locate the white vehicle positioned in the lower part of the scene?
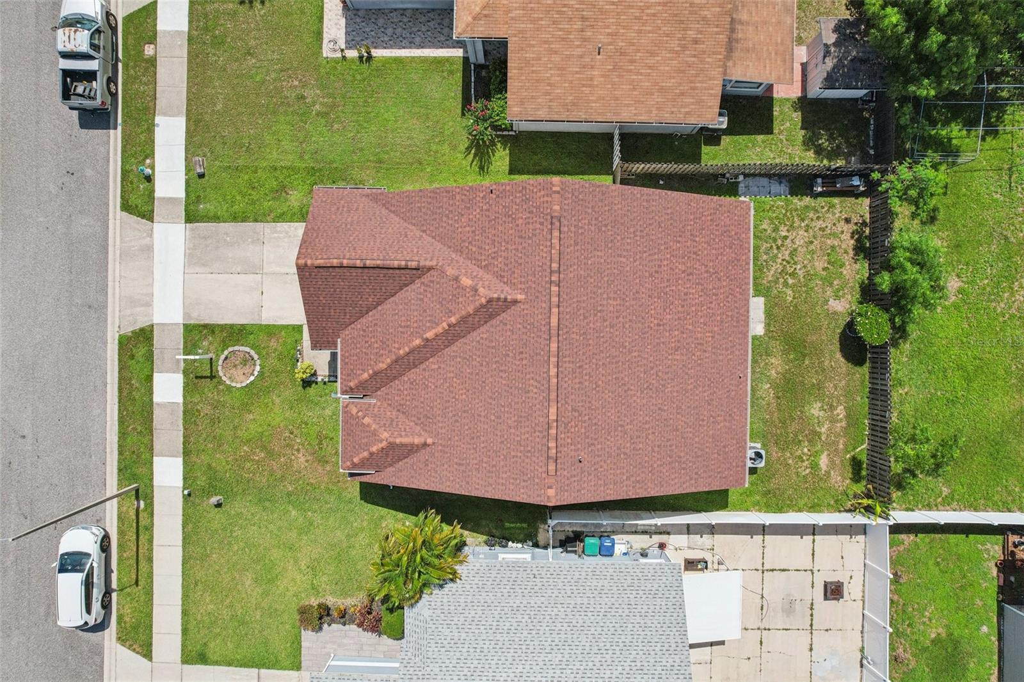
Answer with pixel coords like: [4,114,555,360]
[54,525,111,627]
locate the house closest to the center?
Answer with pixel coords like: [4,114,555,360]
[296,178,754,505]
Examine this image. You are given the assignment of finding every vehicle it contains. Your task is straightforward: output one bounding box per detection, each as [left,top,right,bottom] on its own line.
[54,0,118,115]
[54,525,111,627]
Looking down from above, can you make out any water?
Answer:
No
